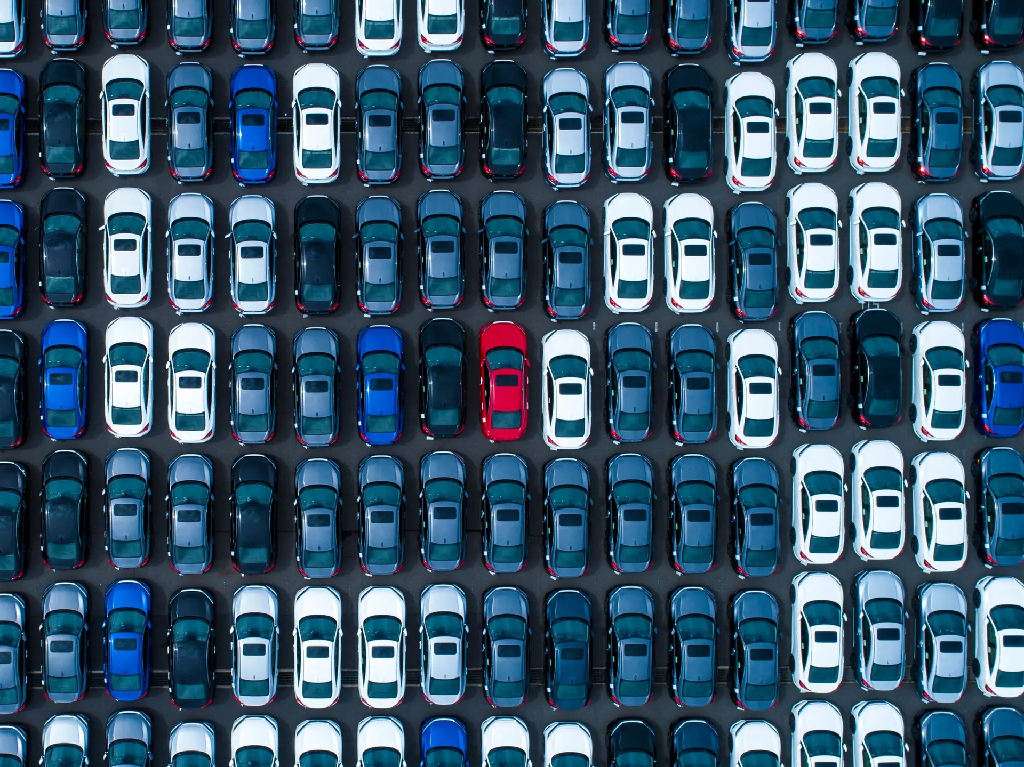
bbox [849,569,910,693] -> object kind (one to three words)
car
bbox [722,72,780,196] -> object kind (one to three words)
car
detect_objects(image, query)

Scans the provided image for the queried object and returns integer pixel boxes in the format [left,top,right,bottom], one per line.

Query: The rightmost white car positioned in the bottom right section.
[971,576,1024,700]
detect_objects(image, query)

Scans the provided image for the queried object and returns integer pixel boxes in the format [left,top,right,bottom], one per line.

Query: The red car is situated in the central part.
[478,321,531,443]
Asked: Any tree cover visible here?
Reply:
No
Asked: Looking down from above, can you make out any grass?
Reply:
No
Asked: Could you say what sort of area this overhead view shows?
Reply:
parking lot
